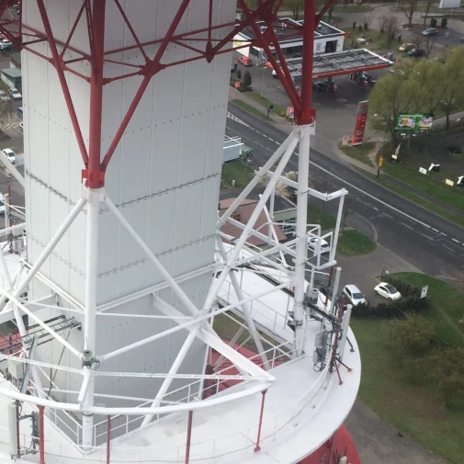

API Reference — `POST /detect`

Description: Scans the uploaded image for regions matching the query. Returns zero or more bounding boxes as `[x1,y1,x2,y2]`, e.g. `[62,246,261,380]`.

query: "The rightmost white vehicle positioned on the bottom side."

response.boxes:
[371,280,403,300]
